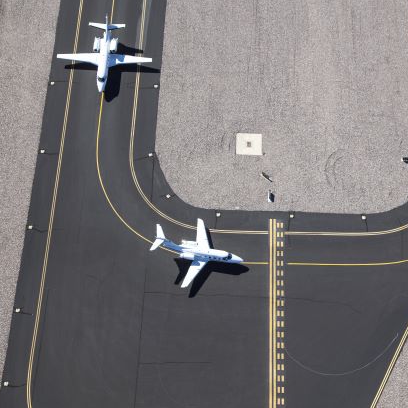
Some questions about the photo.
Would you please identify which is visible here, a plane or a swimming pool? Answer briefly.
plane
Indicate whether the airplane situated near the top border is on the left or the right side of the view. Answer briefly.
left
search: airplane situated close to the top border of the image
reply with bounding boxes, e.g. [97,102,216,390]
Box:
[57,19,153,92]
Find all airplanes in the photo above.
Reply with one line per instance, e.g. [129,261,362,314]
[57,19,153,92]
[150,219,245,287]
